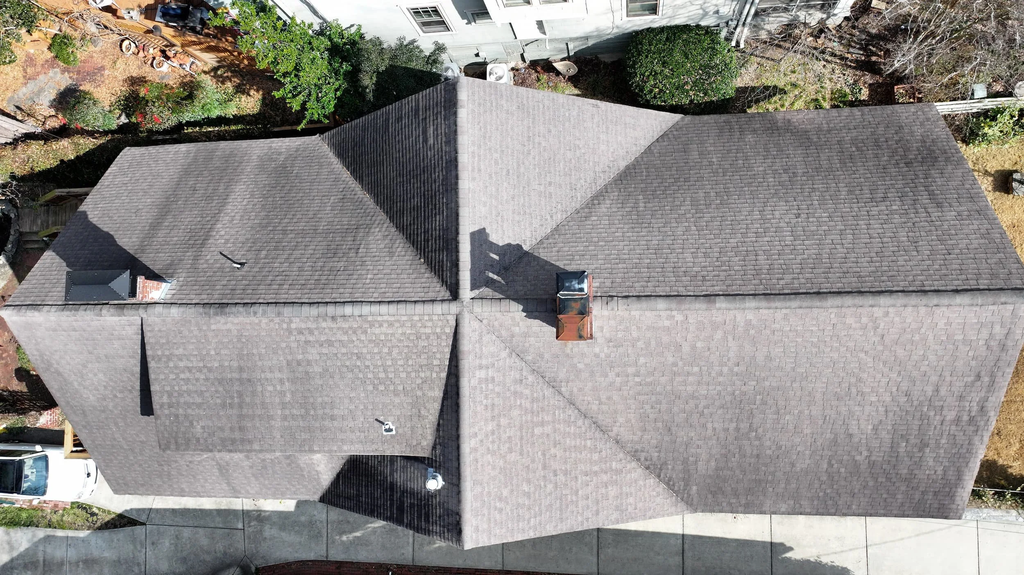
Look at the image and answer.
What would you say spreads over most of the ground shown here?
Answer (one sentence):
The bulk of the photo consists of buildings.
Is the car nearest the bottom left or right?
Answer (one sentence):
The car nearest the bottom is on the left side of the image.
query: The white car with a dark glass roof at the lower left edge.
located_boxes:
[0,440,104,509]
